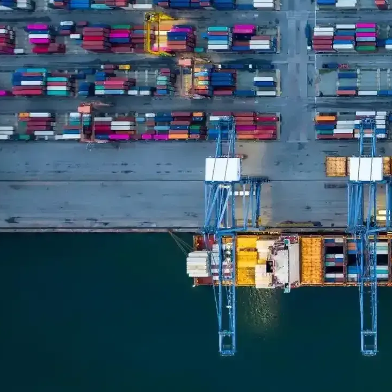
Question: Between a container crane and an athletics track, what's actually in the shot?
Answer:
container crane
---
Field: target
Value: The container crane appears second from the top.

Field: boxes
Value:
[177,58,210,99]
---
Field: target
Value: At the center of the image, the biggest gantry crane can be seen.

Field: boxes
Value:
[200,116,271,358]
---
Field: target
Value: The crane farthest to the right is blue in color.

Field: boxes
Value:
[347,116,392,357]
